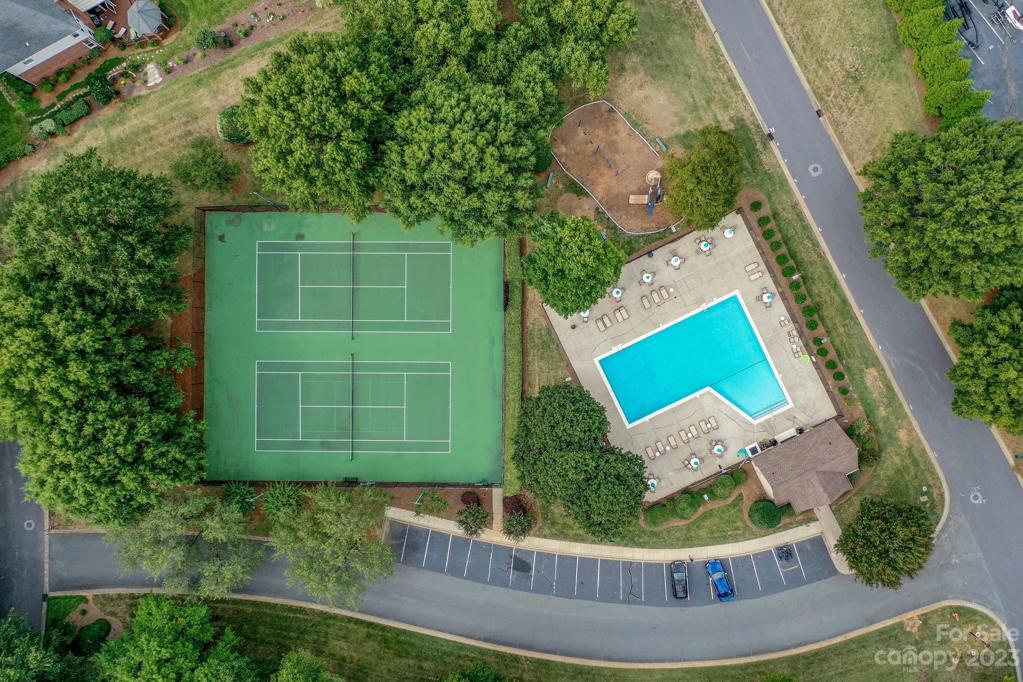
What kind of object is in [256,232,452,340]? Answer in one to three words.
tennis court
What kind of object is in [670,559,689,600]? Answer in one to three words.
car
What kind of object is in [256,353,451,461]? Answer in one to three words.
tennis court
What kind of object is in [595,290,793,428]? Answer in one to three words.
swimming pool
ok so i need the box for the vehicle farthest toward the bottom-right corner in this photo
[705,558,732,600]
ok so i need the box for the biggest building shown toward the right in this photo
[746,418,859,514]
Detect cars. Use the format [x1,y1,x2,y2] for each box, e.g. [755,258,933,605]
[670,559,689,600]
[705,558,732,600]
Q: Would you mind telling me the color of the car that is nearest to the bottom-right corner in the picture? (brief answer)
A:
blue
